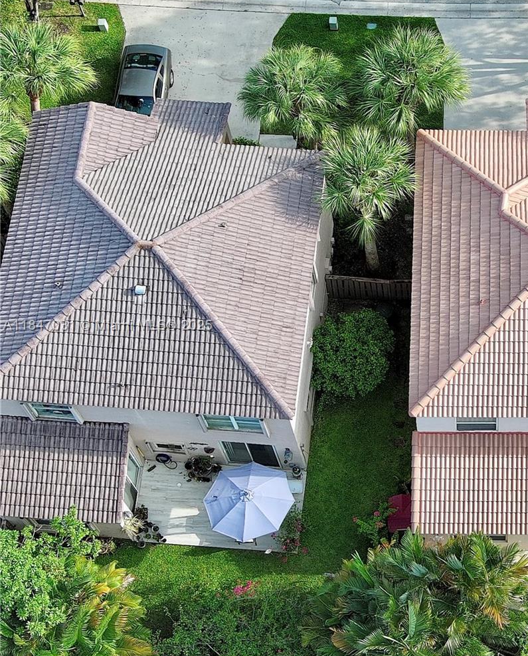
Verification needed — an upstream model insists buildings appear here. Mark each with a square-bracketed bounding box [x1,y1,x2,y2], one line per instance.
[408,94,528,549]
[0,99,334,536]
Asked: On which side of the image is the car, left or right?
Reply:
left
